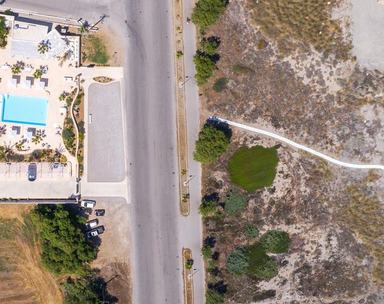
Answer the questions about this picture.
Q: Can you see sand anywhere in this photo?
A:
Yes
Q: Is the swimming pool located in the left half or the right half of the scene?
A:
left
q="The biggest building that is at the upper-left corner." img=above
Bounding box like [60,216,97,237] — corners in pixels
[11,19,71,59]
